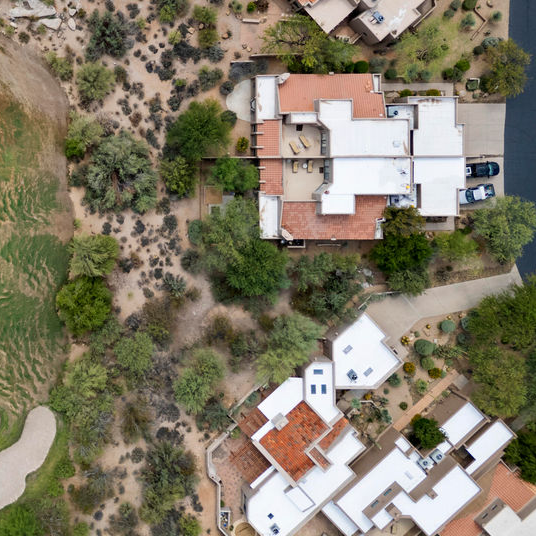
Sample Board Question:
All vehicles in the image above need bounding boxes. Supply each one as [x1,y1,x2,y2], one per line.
[465,160,501,179]
[459,183,498,205]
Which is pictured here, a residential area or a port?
residential area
